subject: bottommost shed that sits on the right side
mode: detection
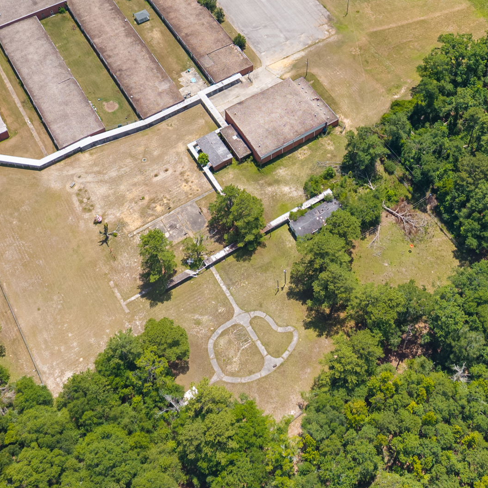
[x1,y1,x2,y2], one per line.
[289,198,345,241]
